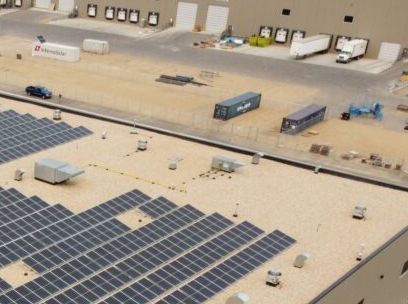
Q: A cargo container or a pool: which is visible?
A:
cargo container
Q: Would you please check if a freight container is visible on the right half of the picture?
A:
Yes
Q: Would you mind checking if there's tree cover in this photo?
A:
No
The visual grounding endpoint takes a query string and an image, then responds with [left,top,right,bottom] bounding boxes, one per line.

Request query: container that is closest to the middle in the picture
[213,91,261,121]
